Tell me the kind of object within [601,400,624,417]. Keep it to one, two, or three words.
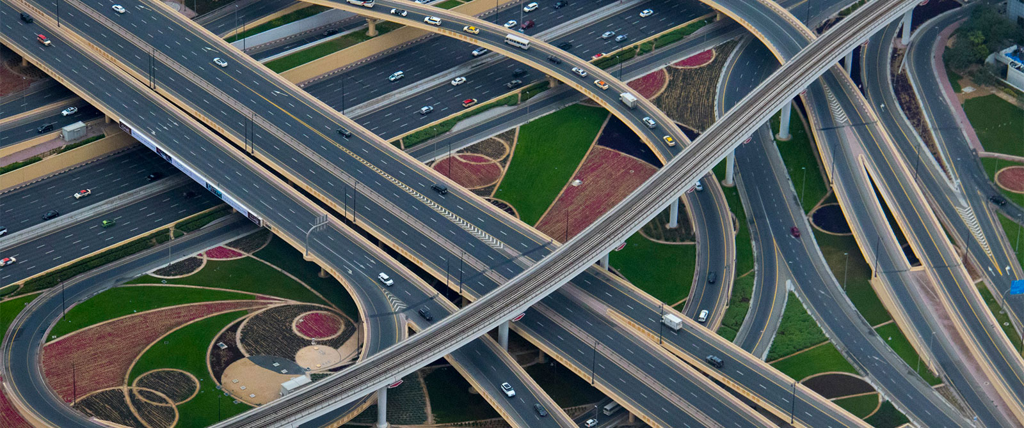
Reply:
vehicle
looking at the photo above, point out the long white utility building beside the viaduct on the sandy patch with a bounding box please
[280,375,311,398]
